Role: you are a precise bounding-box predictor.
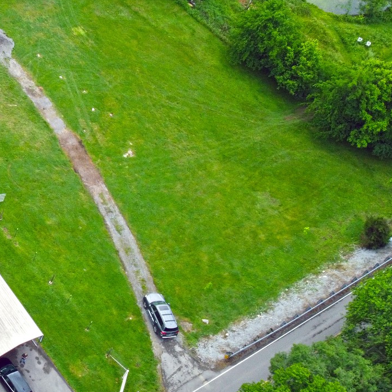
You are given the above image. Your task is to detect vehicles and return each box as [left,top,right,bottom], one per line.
[141,292,179,340]
[0,354,33,392]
